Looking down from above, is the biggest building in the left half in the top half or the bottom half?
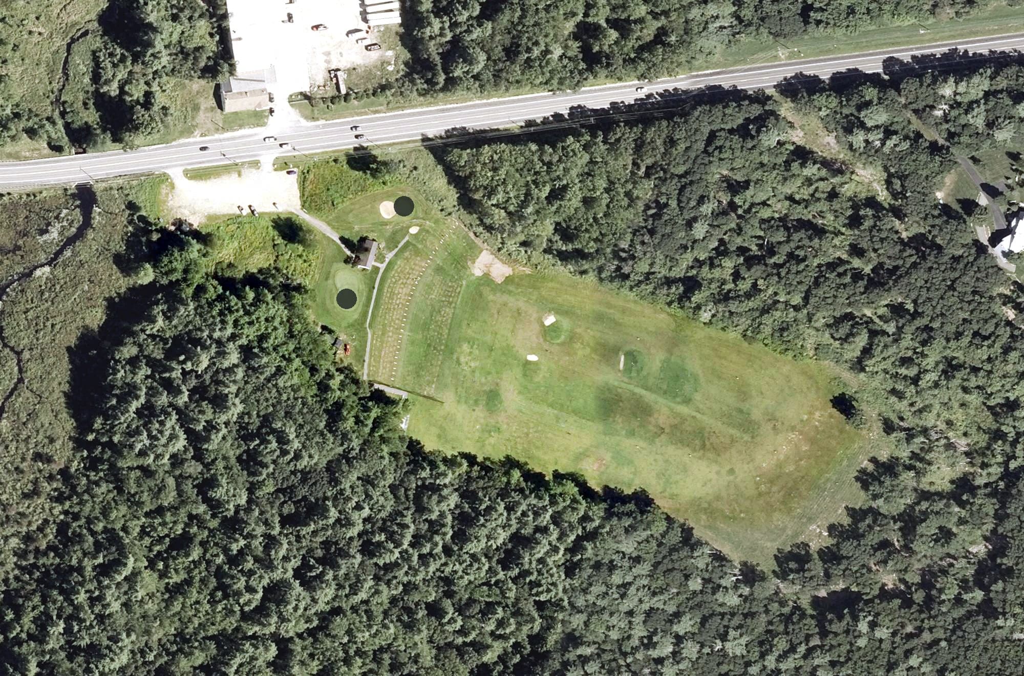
top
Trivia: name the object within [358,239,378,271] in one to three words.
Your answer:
building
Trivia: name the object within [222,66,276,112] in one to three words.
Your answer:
building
